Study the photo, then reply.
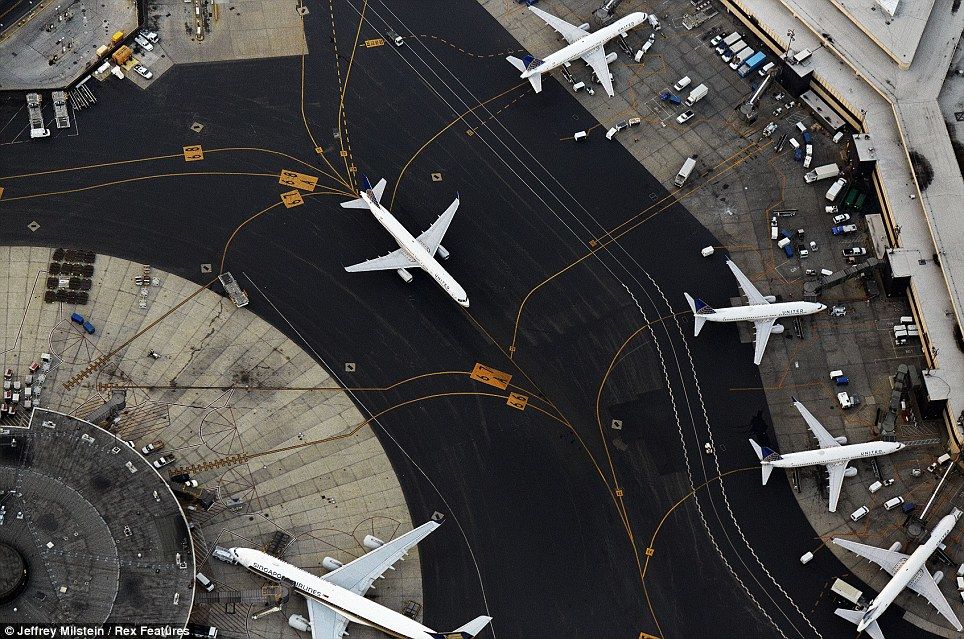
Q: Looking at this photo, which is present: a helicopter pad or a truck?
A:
truck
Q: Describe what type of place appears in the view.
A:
airport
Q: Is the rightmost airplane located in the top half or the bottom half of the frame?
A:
bottom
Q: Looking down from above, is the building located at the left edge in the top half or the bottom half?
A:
bottom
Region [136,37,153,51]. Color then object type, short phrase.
white car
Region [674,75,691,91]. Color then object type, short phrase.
white vehicle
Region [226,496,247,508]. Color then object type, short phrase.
gray vehicle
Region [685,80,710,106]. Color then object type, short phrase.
white truck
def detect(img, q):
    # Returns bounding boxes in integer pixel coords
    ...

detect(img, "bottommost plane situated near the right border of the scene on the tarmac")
[832,513,962,639]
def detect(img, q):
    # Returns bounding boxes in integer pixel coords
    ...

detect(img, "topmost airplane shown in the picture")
[506,8,648,95]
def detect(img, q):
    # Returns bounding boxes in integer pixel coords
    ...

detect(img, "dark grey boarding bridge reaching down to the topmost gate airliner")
[587,0,627,32]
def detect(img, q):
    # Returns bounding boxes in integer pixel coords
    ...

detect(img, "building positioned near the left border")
[0,407,192,639]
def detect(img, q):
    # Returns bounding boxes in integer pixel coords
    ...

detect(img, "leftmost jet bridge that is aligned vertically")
[874,361,910,446]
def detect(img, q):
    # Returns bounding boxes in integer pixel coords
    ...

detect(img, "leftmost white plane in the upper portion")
[341,174,471,307]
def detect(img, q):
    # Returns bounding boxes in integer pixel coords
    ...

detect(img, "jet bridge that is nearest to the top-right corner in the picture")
[735,66,785,122]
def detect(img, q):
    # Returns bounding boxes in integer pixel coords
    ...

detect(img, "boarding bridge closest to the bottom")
[193,582,291,619]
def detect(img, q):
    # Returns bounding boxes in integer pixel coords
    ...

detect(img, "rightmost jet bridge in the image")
[906,455,958,540]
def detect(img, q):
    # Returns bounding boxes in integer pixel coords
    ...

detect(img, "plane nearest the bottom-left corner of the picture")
[229,514,489,639]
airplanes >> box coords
[832,513,962,639]
[229,514,489,639]
[684,254,829,365]
[341,174,471,307]
[506,8,648,95]
[752,394,902,513]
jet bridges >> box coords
[735,66,785,122]
[587,0,627,32]
[193,582,291,619]
[176,481,217,521]
[874,361,910,446]
[906,455,958,540]
[804,254,887,300]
